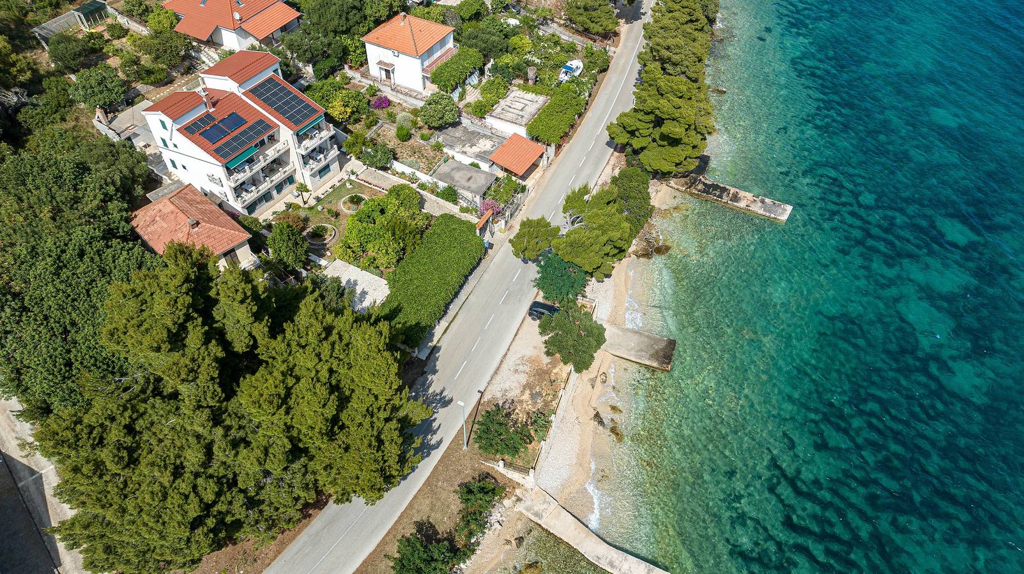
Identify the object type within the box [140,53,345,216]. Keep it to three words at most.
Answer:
house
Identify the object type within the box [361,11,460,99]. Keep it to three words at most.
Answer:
house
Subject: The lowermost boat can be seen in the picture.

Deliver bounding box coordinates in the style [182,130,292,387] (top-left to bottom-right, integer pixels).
[555,55,578,83]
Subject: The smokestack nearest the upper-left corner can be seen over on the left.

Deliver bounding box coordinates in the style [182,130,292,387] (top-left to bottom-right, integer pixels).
[91,102,112,127]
